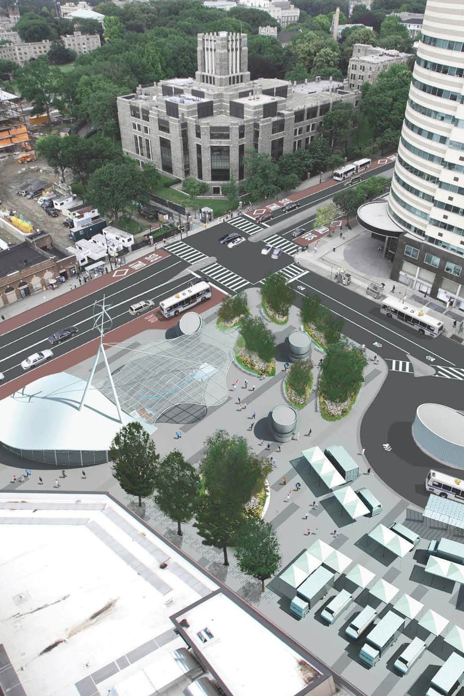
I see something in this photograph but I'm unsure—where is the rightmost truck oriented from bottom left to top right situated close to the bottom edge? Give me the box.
[421,648,464,696]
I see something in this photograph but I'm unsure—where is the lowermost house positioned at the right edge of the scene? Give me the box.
[400,400,464,471]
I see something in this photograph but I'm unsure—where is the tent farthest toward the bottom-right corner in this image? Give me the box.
[438,621,464,656]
